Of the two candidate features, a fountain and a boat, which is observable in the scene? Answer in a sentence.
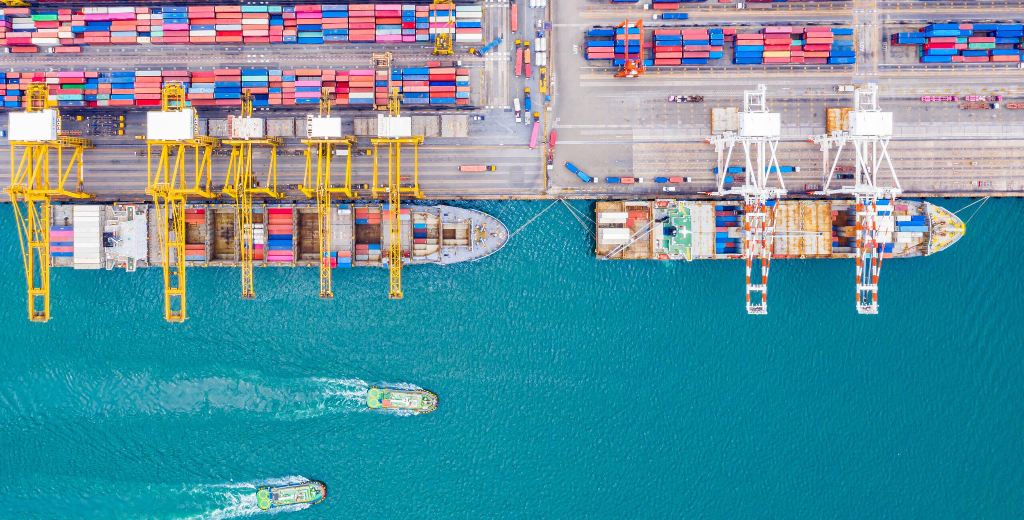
The one in the frame is a boat.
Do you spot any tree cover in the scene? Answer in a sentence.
No, the picture contains no tree cover.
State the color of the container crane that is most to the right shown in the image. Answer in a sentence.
The color of the container crane that is most to the right is white.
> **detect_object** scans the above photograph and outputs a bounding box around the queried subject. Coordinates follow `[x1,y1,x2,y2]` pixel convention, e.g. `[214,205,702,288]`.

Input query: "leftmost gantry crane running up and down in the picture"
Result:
[9,82,97,322]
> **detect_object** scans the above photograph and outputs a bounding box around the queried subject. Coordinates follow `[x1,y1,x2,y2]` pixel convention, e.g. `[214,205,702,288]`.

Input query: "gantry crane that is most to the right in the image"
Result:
[808,82,903,315]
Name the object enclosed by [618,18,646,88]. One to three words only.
container crane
